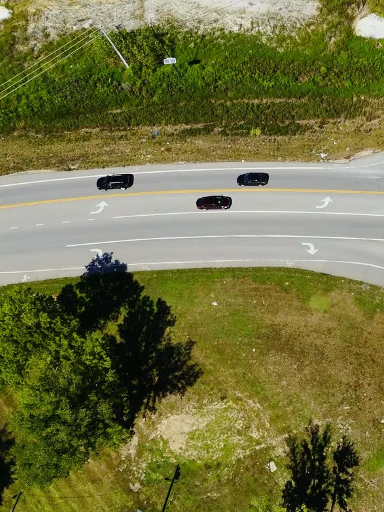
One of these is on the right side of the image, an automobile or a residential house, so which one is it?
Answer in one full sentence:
You can see an automobile on the right side of the image.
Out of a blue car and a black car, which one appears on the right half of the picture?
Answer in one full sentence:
What appears on the right half of the picture is a black car.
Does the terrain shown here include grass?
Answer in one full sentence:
Yes, grass shows up in the scene.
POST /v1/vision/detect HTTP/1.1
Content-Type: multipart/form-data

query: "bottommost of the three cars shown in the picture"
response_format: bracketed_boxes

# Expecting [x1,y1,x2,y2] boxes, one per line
[193,194,231,212]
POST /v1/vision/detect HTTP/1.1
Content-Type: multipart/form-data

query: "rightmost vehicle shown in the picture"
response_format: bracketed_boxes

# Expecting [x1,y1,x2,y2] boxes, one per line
[236,171,269,187]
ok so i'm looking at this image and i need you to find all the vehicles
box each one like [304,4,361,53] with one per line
[193,194,231,212]
[236,171,269,187]
[94,172,134,192]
